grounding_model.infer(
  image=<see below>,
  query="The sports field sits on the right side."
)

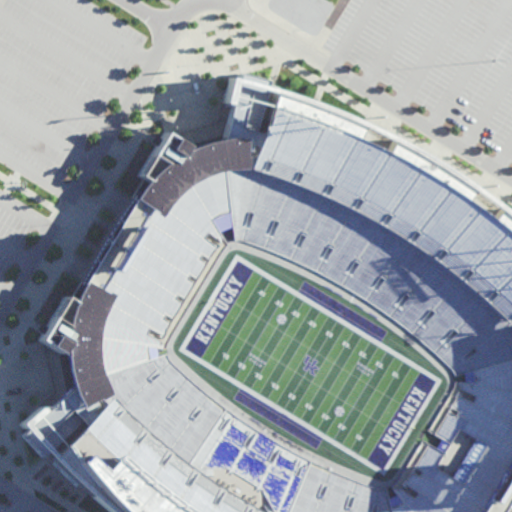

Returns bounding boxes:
[172,250,448,478]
